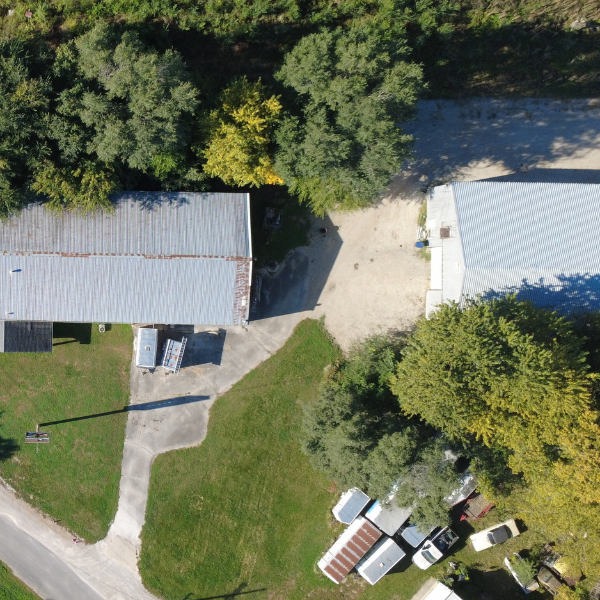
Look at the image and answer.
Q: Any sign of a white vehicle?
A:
Yes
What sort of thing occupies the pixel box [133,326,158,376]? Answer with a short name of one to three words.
trailer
